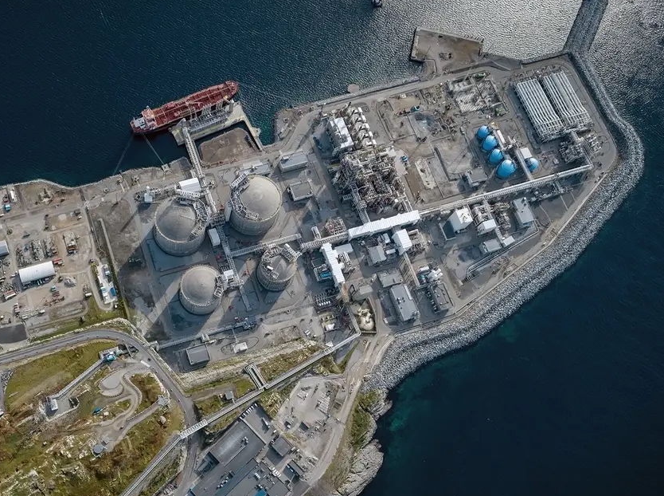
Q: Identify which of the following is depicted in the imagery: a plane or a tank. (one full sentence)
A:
It is a tank that can be seen here.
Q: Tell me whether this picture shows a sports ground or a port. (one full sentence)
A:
This looks like a port.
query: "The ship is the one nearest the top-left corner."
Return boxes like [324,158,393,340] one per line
[129,83,239,136]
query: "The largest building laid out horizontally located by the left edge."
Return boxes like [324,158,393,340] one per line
[18,261,55,283]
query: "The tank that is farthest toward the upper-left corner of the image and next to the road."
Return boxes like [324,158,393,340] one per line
[152,194,207,257]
